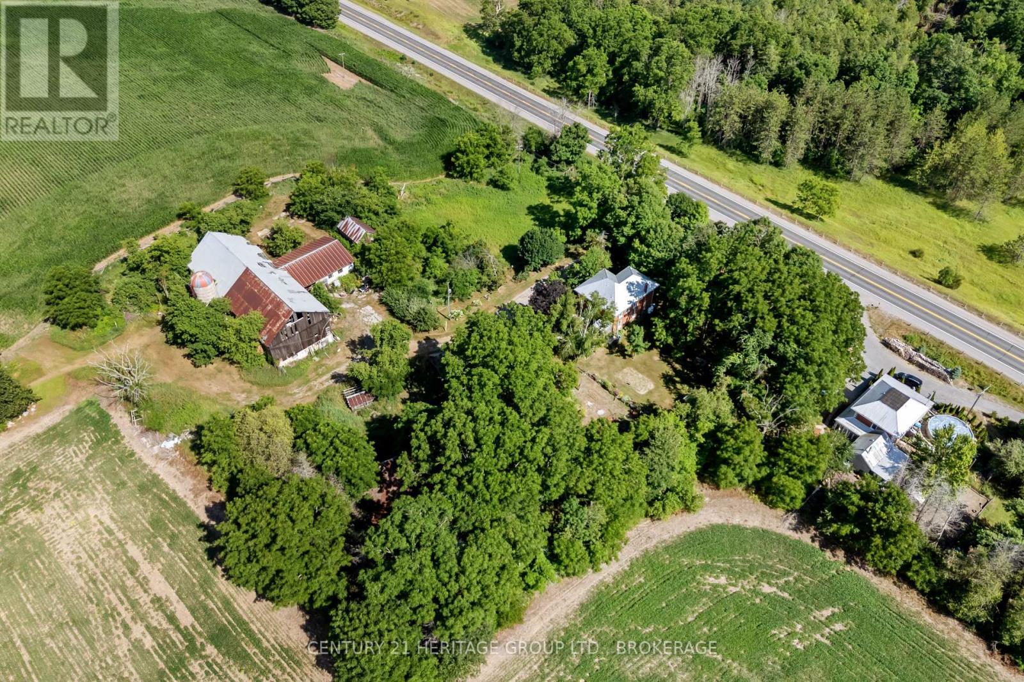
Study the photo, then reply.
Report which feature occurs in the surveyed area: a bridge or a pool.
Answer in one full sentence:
It is a pool that can be seen here.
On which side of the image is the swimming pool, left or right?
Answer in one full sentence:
You can find the swimming pool on the right side of the picture.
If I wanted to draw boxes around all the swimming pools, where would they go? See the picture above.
[923,414,976,453]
